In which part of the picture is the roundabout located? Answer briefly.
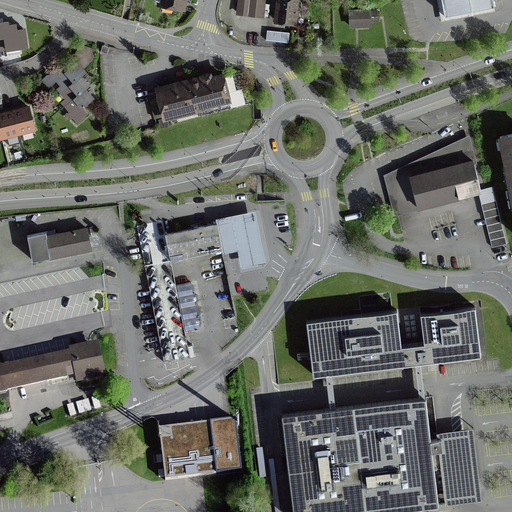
top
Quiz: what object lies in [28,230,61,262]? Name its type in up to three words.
building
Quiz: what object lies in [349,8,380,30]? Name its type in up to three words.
house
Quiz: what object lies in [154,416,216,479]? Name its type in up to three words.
building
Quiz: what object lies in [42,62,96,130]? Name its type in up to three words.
house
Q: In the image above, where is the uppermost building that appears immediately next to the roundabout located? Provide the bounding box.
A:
[154,71,246,128]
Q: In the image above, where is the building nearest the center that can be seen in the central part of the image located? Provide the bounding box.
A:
[216,211,268,271]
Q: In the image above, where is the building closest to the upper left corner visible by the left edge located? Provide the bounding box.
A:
[0,18,32,61]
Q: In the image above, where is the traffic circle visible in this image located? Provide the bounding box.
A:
[262,98,342,179]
